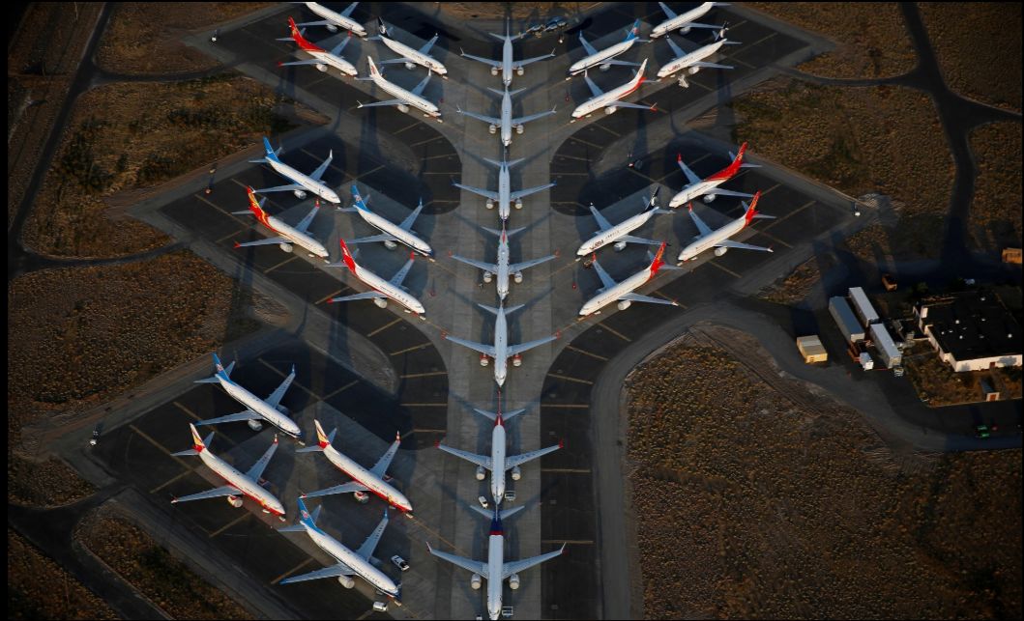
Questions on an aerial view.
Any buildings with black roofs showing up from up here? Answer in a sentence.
Yes, there is a building with a black roof in the image.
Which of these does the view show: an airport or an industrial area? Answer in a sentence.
The area seen from above is an airport.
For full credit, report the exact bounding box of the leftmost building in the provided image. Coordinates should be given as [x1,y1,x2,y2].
[799,338,830,363]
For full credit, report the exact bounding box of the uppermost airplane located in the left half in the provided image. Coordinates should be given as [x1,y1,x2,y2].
[292,0,369,38]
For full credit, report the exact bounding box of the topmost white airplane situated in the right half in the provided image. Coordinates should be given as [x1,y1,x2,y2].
[650,0,730,38]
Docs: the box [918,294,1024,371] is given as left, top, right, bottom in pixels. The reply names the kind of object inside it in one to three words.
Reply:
building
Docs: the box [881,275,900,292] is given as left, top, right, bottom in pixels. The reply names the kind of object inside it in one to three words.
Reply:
vehicle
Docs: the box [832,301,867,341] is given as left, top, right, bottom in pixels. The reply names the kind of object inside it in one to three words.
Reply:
trailer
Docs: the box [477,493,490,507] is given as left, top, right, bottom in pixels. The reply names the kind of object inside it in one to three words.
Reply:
vehicle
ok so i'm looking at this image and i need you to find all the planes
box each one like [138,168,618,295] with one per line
[434,397,563,505]
[250,138,341,204]
[338,186,436,256]
[447,209,559,302]
[580,242,681,318]
[278,18,357,76]
[278,498,400,599]
[573,59,659,119]
[355,56,439,117]
[566,20,650,76]
[325,240,425,315]
[452,149,557,224]
[172,424,285,516]
[367,18,450,75]
[669,142,760,209]
[462,25,554,87]
[297,421,413,513]
[657,22,740,79]
[233,188,328,258]
[195,353,302,439]
[442,292,560,388]
[292,0,369,38]
[578,188,675,259]
[650,0,730,38]
[427,491,566,619]
[458,73,555,147]
[678,191,775,262]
